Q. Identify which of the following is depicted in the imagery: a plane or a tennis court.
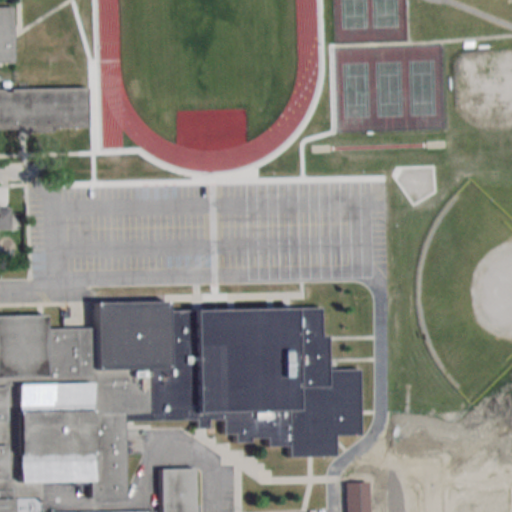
tennis court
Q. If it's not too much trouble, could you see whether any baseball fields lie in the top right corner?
Yes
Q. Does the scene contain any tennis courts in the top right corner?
Yes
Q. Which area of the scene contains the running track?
top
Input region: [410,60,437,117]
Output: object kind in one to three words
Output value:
tennis court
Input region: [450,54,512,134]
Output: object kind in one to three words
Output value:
baseball field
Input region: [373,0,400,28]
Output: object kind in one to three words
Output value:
tennis court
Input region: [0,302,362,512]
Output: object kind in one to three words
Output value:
building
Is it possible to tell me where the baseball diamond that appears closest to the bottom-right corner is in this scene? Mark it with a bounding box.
[420,182,512,401]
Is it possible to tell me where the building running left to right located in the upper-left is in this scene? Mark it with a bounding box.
[0,88,90,131]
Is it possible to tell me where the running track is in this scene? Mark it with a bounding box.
[100,0,317,172]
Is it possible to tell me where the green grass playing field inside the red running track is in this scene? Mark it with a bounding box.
[120,0,297,146]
